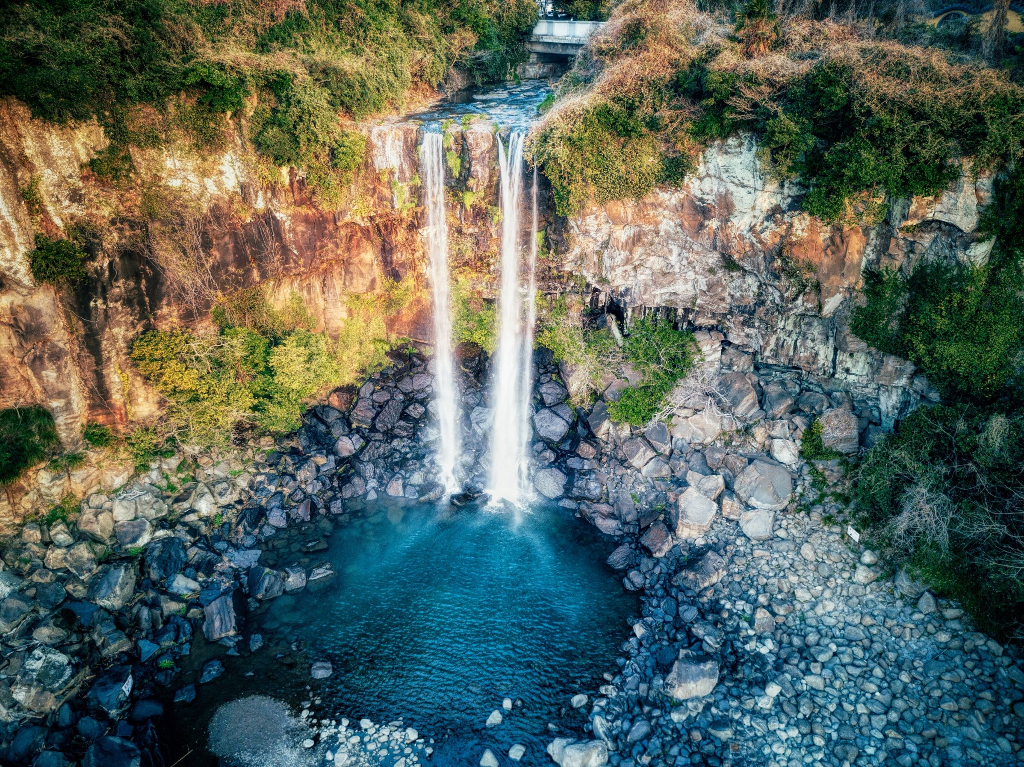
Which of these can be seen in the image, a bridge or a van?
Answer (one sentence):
Visible in the photo is a bridge.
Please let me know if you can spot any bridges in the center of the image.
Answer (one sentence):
No, looking in the center of the image, there is no bridge.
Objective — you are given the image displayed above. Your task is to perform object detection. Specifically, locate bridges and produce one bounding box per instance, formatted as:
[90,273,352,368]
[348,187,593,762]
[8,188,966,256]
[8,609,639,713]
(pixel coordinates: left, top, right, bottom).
[521,16,618,78]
